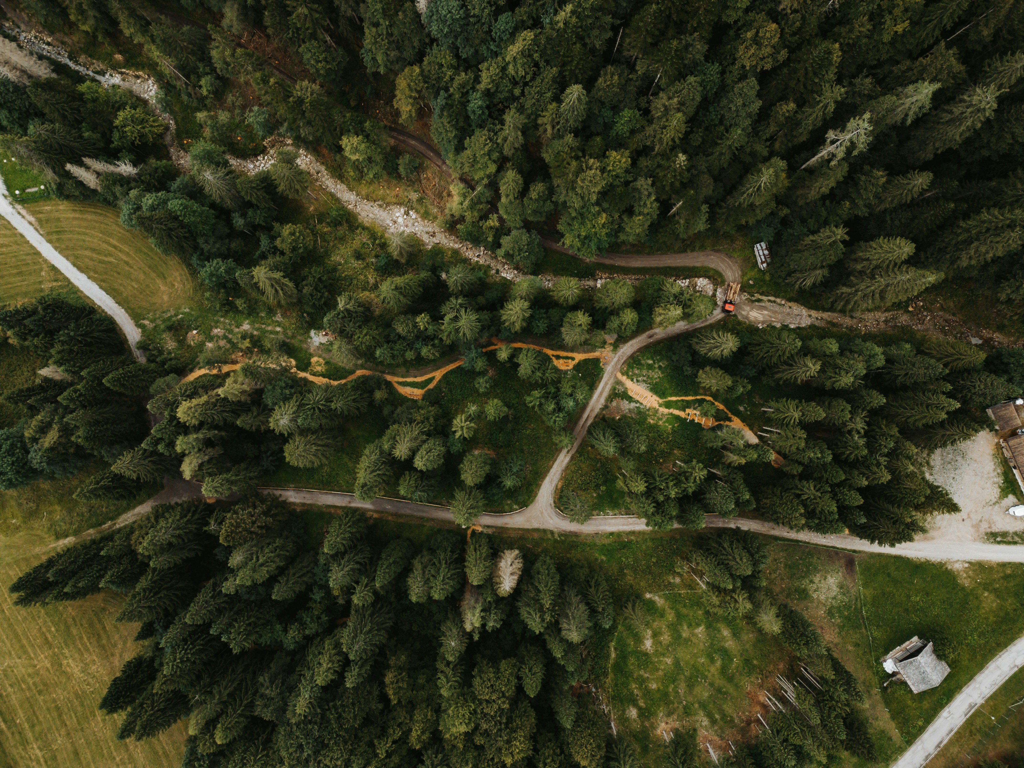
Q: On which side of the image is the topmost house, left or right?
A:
right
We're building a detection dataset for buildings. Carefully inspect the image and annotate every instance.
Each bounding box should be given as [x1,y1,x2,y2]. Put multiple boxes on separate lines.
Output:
[984,401,1024,431]
[1000,432,1024,495]
[880,635,951,694]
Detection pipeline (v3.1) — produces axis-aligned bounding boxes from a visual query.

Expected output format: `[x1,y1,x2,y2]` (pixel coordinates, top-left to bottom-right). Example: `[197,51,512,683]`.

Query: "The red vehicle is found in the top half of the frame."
[723,285,741,315]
